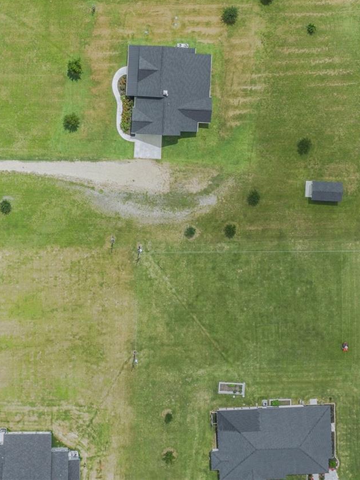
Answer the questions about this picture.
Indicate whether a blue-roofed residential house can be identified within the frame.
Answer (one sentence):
No, the photo shows no blue-roofed residential house.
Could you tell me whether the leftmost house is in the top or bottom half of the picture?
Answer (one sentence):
It is in the bottom half that the leftmost house appears.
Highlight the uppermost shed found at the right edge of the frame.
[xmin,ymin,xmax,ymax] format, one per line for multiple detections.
[304,180,343,201]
